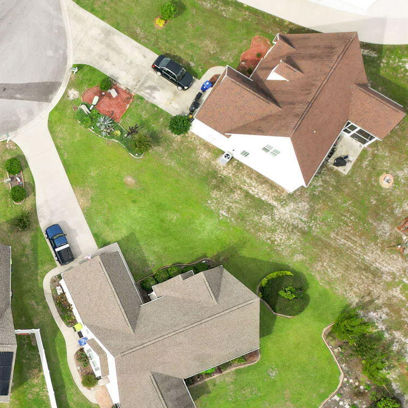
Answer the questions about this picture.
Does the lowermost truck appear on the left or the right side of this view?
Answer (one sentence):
You can find the lowermost truck on the left side of the picture.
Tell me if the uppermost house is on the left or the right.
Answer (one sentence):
You can find the uppermost house on the right side of the picture.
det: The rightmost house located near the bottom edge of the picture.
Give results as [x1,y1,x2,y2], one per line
[58,249,260,408]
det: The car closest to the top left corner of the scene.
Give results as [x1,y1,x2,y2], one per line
[152,51,197,89]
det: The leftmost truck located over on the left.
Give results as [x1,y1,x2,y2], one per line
[46,221,79,268]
